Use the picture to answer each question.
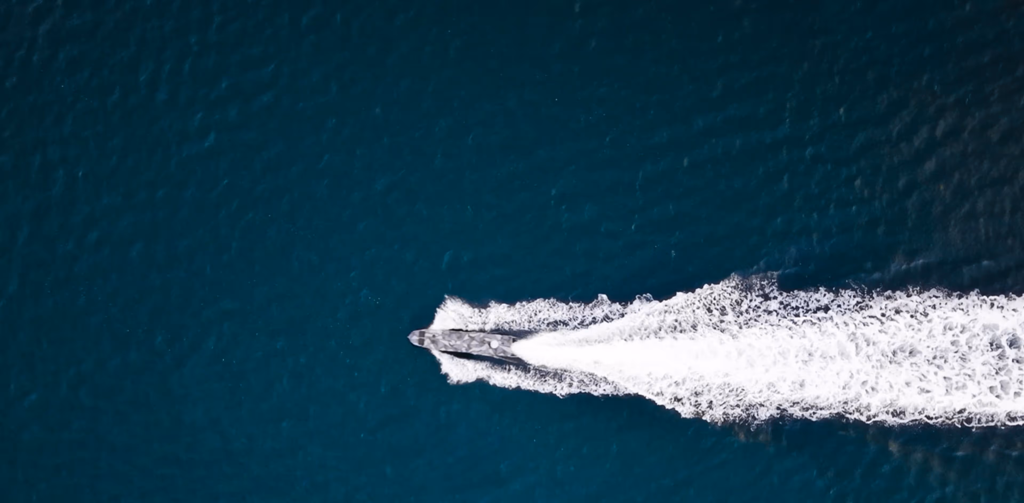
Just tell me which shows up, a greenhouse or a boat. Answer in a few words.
boat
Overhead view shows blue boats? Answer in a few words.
No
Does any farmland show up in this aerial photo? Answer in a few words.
No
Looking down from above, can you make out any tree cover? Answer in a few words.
No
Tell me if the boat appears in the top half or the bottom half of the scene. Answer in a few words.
bottom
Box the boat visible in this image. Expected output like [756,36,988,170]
[406,329,516,356]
